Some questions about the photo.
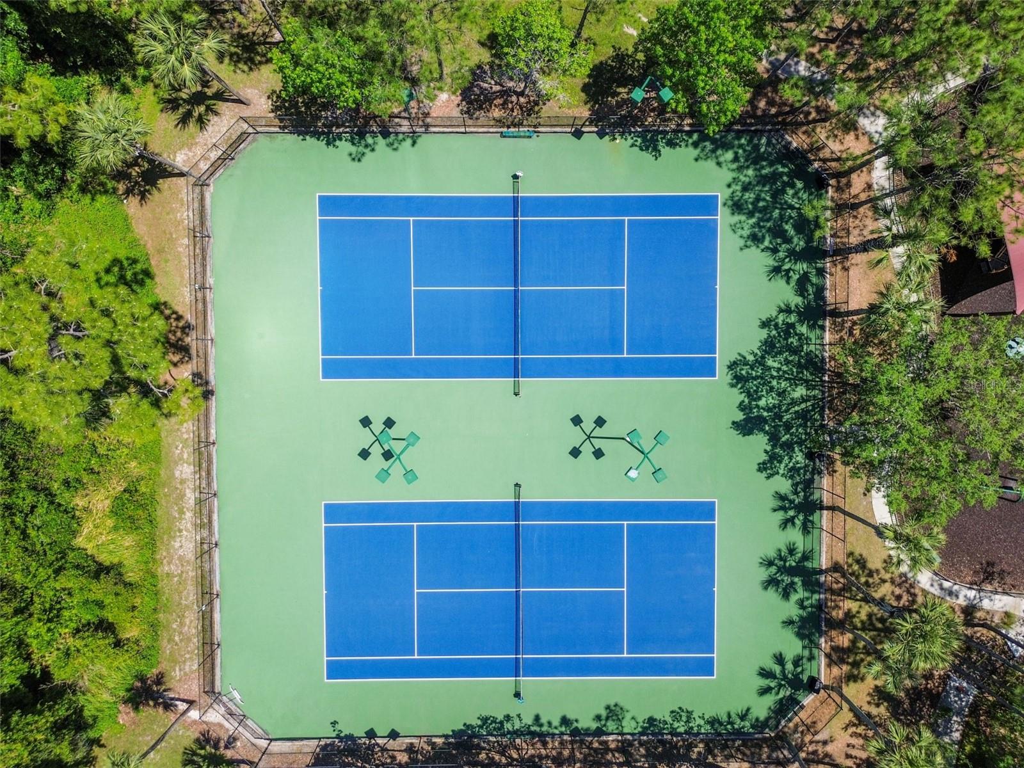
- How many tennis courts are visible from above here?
2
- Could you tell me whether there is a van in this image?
No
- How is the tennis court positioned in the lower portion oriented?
from left to right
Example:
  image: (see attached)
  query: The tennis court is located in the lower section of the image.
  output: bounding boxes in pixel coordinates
[322,500,717,682]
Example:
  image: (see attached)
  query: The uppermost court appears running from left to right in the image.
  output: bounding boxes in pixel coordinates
[317,193,720,380]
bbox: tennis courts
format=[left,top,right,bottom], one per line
[317,193,720,380]
[322,500,717,682]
